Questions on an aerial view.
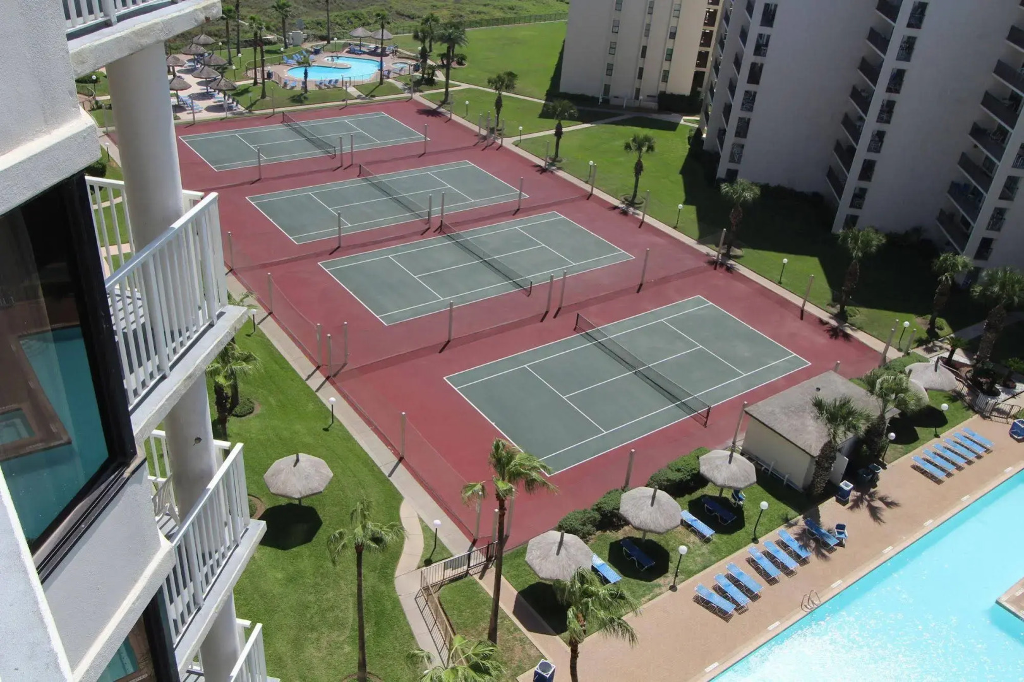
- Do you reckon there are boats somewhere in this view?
No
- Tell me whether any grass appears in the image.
Yes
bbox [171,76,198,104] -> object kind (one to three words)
umbrella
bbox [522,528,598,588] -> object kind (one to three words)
umbrella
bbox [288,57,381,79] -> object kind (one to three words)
swimming pool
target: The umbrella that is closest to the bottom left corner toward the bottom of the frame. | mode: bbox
[261,454,331,509]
